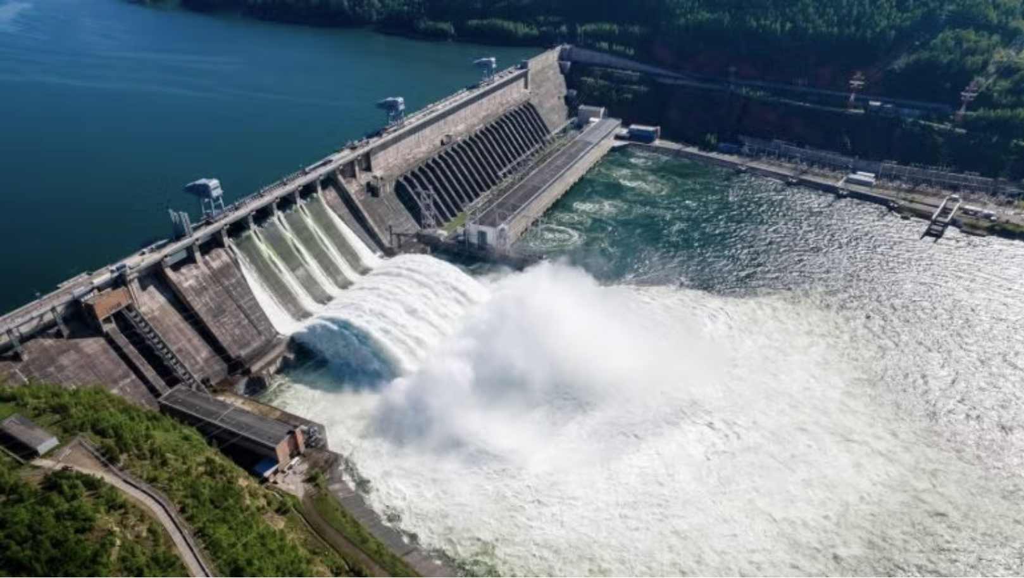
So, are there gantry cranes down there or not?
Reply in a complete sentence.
Yes, a gantry crane appears in the view.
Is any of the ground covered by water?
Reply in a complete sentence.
Yes, some water is visible.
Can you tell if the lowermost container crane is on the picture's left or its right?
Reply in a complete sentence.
You can find the lowermost container crane on the left side of the picture.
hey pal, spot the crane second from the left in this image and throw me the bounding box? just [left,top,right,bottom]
[365,89,410,126]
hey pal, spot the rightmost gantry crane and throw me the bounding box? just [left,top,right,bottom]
[461,48,501,80]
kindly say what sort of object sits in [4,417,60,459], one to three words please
shed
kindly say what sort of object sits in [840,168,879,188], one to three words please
building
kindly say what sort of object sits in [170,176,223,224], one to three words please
container crane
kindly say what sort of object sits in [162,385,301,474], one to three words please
building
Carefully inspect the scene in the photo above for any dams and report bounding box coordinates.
[0,48,587,442]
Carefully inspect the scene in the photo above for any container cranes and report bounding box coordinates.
[461,48,501,80]
[170,176,223,224]
[365,89,410,126]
